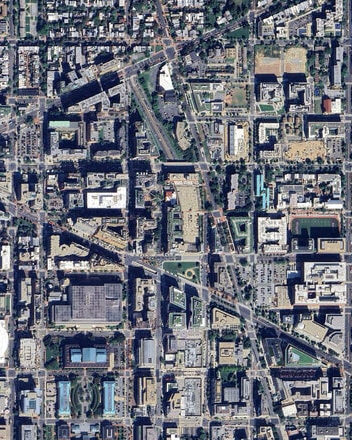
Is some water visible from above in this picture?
No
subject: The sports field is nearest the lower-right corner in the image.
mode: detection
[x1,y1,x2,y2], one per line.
[289,215,339,253]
